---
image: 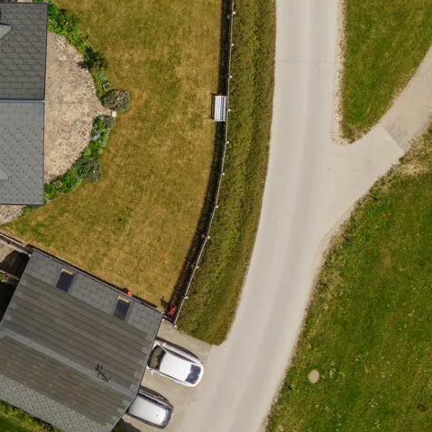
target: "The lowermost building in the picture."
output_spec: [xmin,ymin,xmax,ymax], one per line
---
[0,247,165,432]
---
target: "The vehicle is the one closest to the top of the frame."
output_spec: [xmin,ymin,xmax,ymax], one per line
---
[143,337,206,390]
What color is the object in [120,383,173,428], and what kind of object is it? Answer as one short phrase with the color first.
white car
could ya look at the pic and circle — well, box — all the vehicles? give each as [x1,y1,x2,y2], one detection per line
[143,337,206,390]
[120,383,173,428]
